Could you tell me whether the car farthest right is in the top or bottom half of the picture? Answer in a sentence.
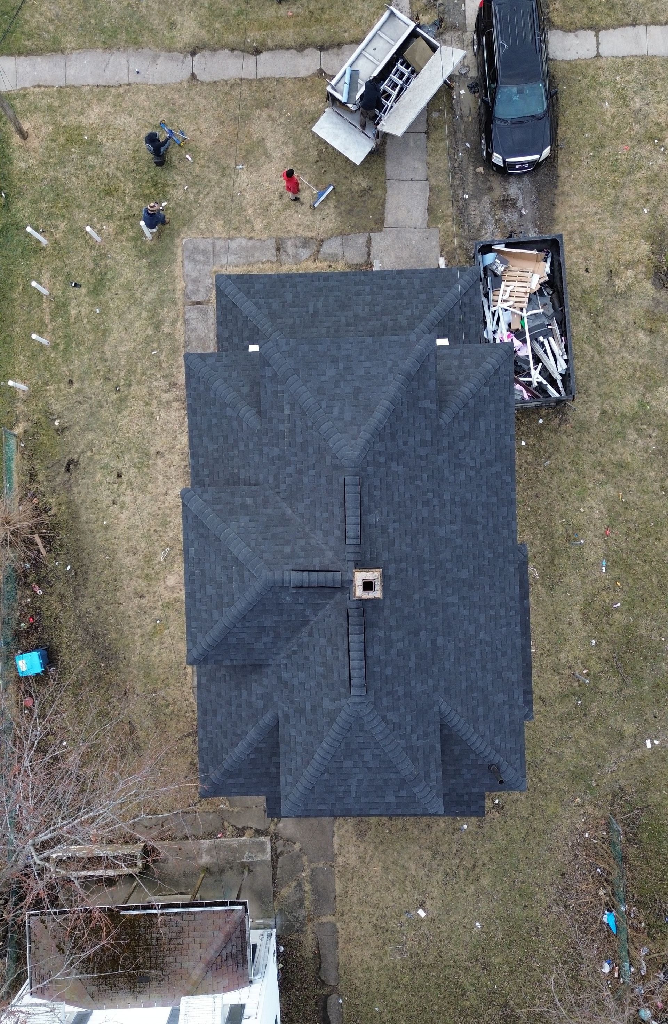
Seen from above, the car farthest right lies in the top half of the view.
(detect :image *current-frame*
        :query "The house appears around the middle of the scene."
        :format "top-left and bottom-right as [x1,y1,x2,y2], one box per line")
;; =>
[177,261,534,821]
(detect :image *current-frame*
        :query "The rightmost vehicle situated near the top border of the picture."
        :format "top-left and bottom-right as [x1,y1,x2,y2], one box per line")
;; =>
[472,0,565,175]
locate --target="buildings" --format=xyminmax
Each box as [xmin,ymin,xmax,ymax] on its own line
[0,865,277,1024]
[177,261,534,821]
